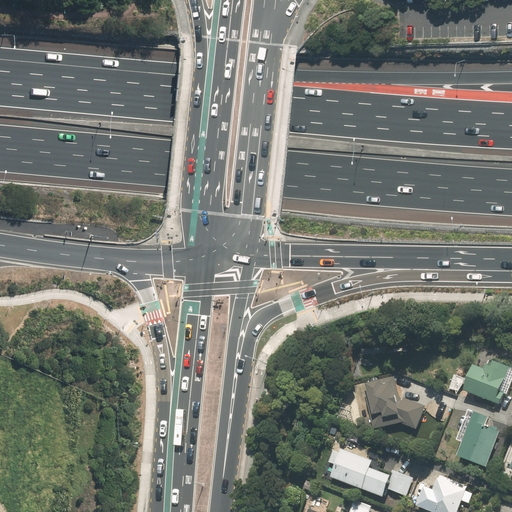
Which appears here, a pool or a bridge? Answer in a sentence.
Looking from above, you can make out a bridge.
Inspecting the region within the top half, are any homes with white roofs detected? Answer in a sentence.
No, I can find no home with a white roof within the top half.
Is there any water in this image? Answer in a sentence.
No, the scene doesn't show any water.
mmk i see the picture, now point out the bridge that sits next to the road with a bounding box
[165,35,298,220]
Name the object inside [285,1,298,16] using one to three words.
vehicle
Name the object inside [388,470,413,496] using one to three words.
building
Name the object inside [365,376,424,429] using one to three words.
house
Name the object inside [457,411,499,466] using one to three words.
house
